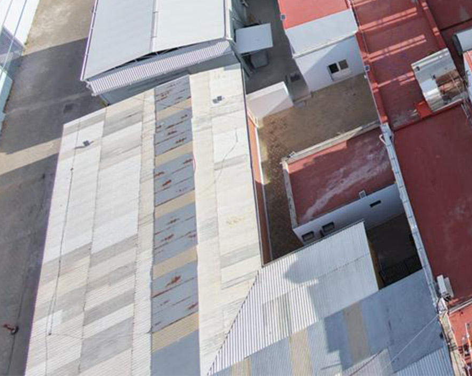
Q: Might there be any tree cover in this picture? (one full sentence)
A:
No, the picture contains no tree cover.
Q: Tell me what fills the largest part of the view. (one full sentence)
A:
The scene is dominated by buildings.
